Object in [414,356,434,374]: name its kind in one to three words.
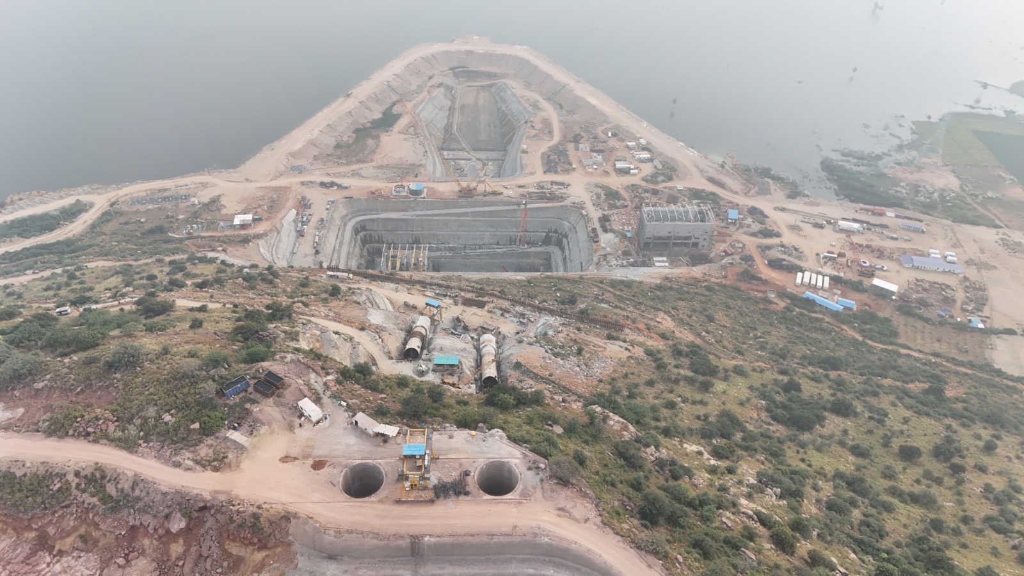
vehicle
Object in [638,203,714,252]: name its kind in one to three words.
building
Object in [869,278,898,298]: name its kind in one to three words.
shed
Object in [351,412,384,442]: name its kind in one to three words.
building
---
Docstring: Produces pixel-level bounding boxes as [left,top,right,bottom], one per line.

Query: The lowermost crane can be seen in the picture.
[395,428,439,502]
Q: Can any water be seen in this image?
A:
Yes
